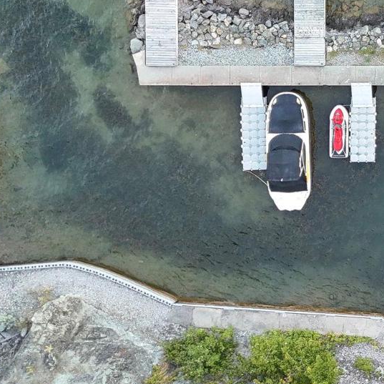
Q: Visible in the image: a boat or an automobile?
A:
boat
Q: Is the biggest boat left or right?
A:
right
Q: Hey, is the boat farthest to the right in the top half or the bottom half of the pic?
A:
top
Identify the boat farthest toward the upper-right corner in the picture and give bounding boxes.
[329,105,349,157]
